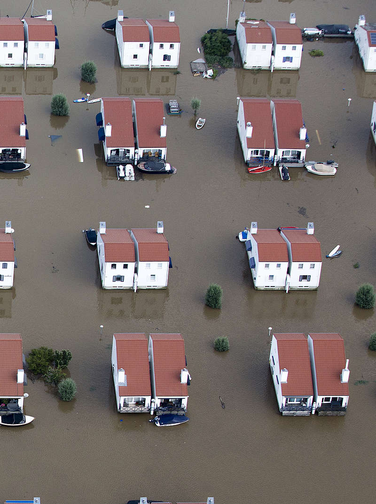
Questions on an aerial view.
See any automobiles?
No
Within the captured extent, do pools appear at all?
No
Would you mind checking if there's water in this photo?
Yes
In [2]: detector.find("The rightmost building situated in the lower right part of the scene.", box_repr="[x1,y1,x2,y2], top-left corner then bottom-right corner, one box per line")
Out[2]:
[308,334,351,415]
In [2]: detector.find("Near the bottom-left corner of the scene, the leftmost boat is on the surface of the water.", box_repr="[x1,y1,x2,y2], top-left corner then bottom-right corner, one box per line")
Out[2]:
[0,411,34,425]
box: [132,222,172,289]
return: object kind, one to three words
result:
house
